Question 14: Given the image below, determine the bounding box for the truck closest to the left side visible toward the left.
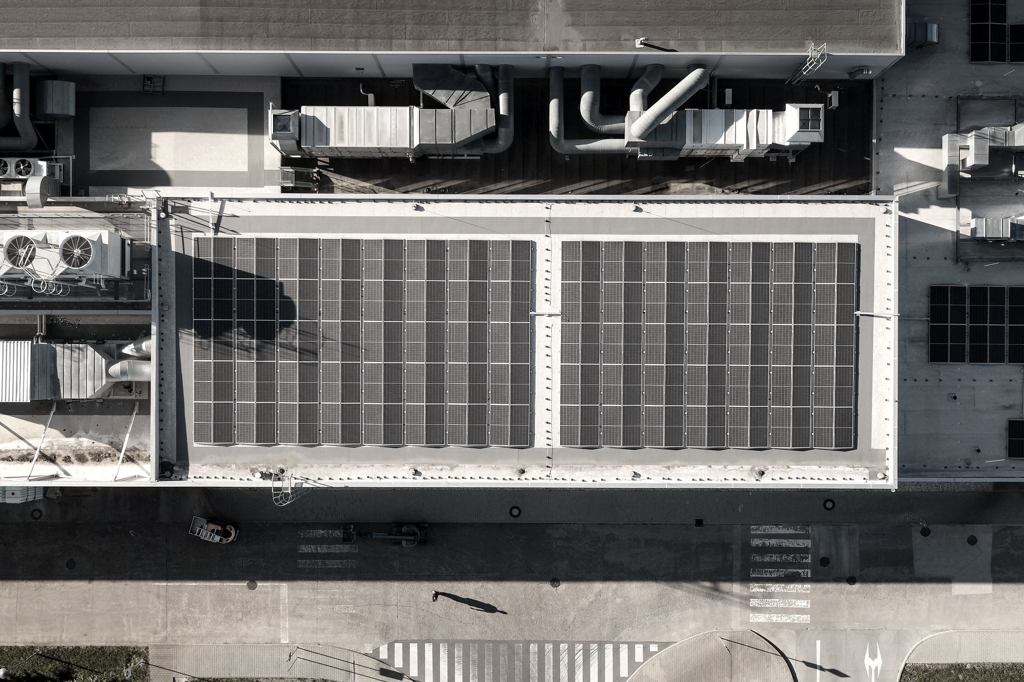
[183,516,238,545]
